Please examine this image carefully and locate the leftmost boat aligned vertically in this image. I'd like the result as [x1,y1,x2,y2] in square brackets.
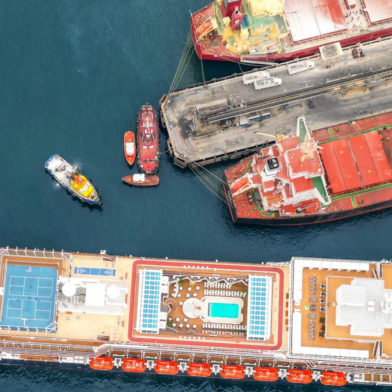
[123,131,135,166]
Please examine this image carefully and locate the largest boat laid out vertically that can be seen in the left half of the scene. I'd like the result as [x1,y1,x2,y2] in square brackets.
[134,101,162,177]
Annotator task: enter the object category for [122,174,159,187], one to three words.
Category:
boat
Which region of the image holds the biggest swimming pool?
bottom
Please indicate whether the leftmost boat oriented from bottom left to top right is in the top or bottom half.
top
